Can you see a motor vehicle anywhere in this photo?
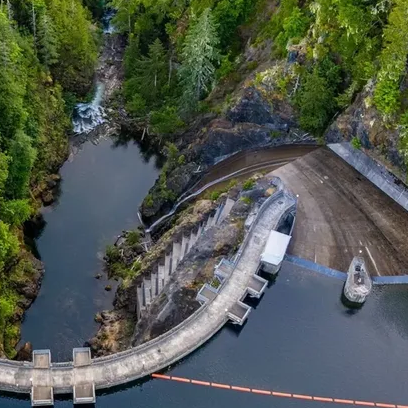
No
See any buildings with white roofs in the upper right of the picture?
No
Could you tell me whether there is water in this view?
Yes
